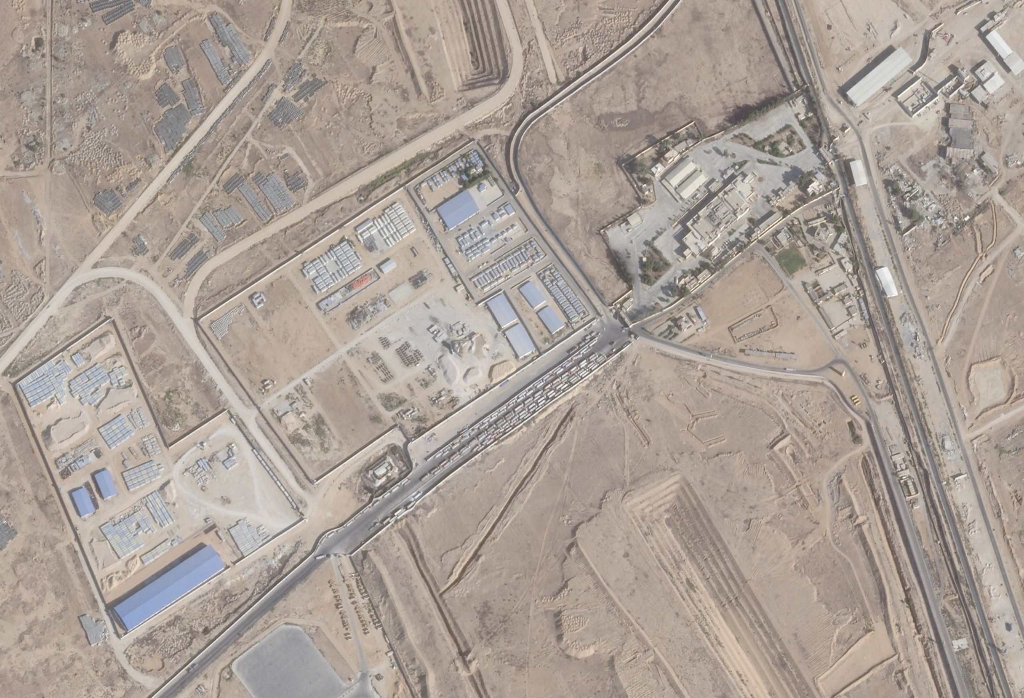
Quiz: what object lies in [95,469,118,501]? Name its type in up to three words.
building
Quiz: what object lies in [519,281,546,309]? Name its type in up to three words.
building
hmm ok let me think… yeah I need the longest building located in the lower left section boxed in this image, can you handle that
[113,545,225,633]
